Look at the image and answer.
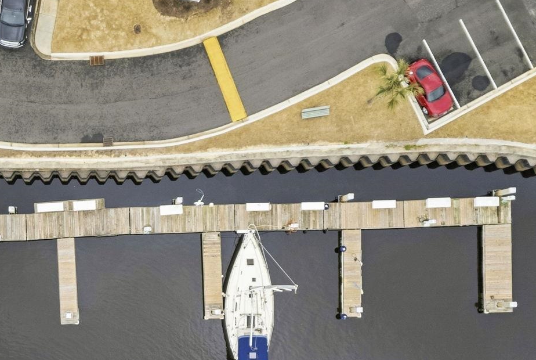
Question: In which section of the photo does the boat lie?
bottom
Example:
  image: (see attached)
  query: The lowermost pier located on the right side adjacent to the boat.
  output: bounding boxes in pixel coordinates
[336,229,363,318]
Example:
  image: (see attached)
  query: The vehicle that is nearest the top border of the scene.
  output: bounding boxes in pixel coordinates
[0,0,35,49]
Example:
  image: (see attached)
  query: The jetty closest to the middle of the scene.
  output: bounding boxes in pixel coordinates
[234,202,324,232]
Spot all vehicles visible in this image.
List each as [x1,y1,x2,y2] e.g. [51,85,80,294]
[408,57,454,118]
[0,0,35,49]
